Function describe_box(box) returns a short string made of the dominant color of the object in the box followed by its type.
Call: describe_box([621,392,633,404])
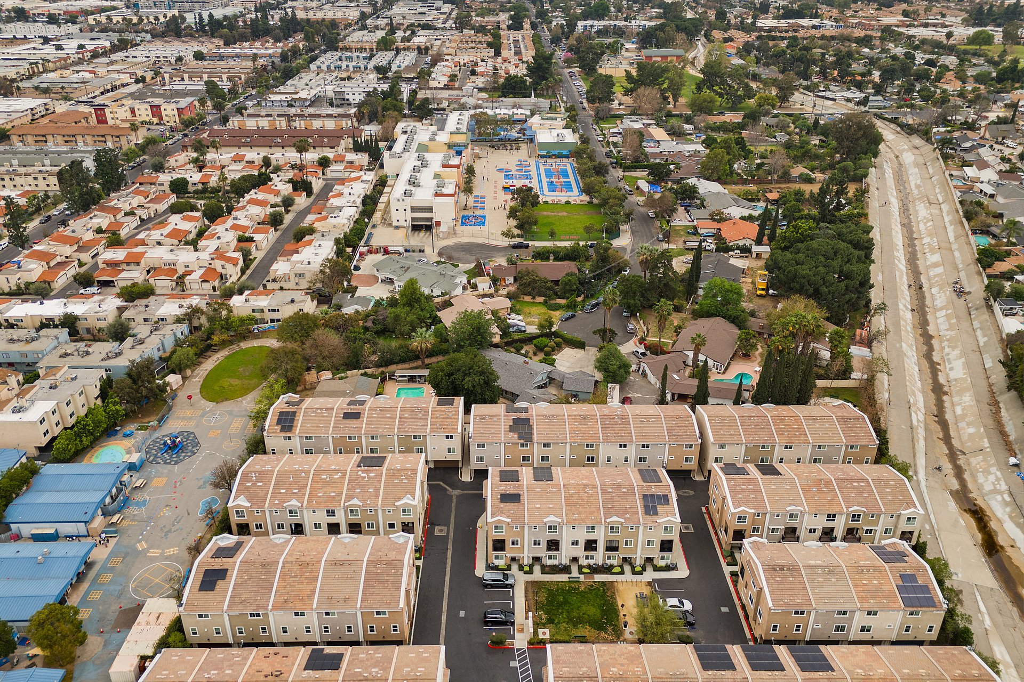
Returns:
red vehicle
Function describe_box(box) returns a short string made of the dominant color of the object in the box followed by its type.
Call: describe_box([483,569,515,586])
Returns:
gray car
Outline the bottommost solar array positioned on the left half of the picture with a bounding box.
[296,649,341,676]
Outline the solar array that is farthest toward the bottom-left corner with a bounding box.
[194,567,228,594]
